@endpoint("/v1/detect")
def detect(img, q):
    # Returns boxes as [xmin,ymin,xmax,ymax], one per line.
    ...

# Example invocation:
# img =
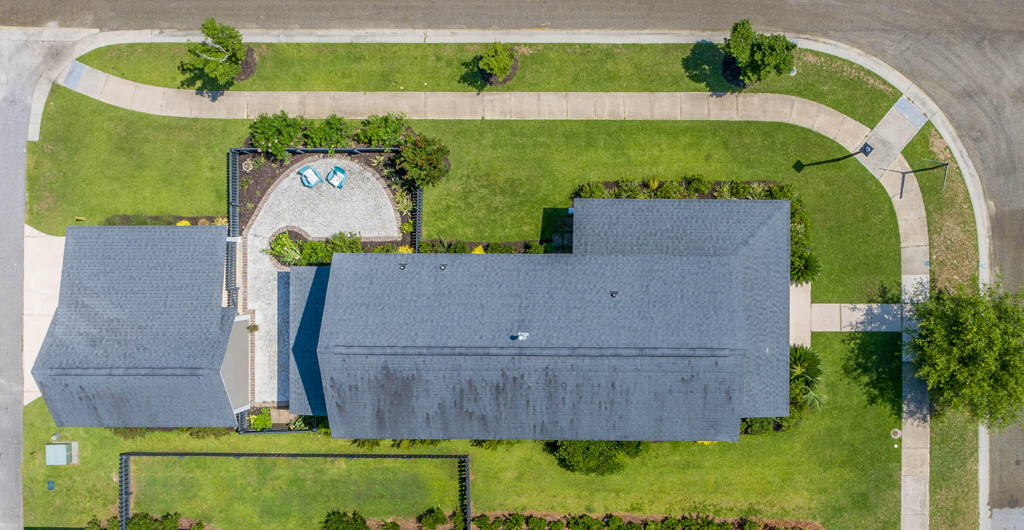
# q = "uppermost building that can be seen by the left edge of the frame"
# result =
[33,226,251,427]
